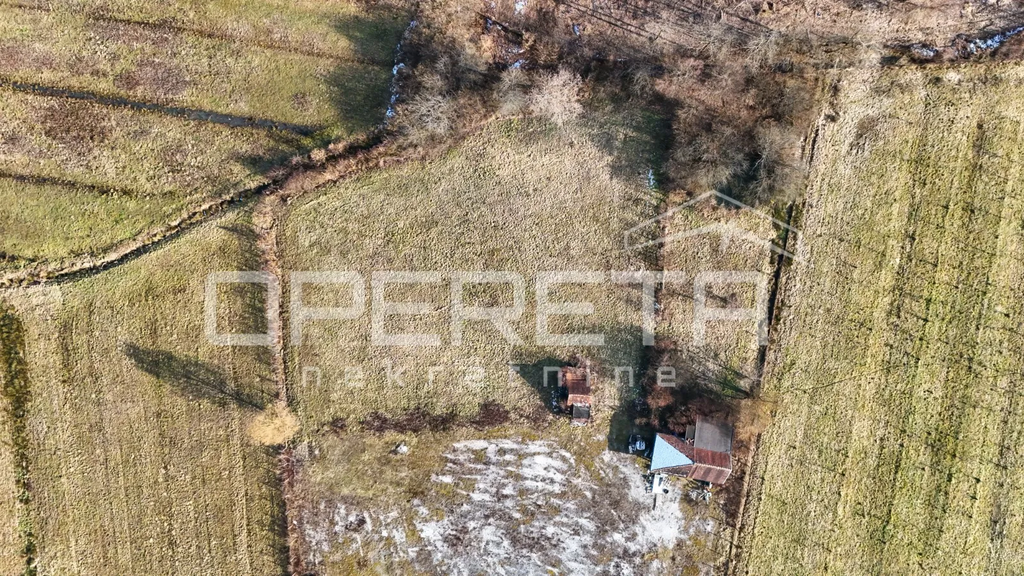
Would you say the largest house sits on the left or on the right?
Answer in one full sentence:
The largest house appears in the right half of the scene.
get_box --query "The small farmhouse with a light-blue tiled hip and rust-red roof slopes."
[650,414,734,485]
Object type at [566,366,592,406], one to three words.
shed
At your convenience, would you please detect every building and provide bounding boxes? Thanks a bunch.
[650,414,734,485]
[566,366,592,406]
